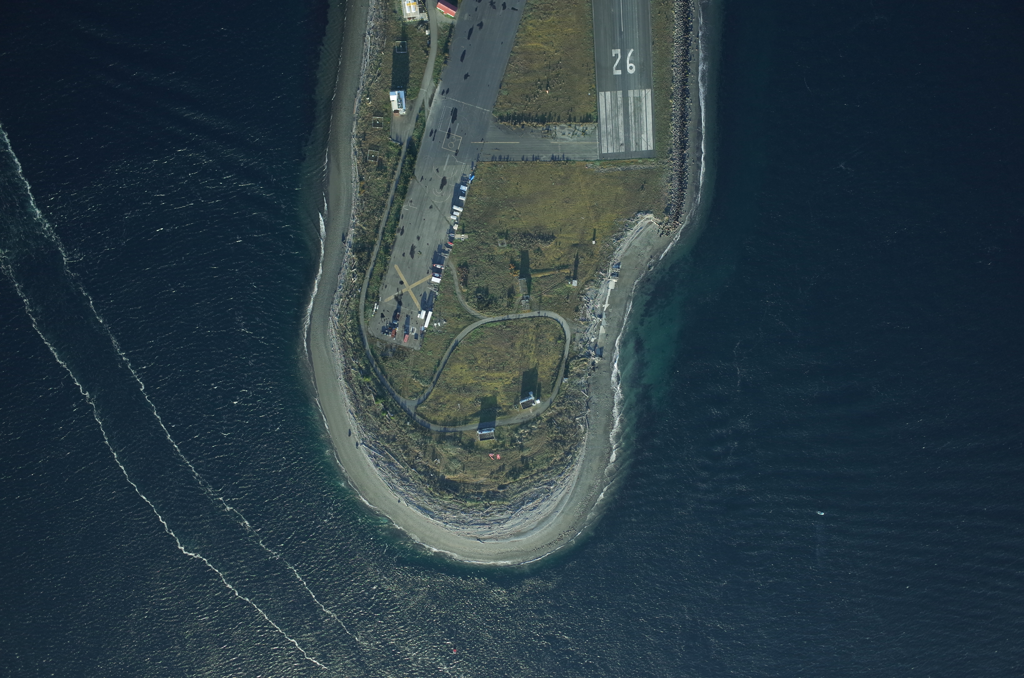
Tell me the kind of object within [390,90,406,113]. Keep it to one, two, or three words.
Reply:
building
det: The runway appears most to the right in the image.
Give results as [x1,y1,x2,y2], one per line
[592,0,656,160]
